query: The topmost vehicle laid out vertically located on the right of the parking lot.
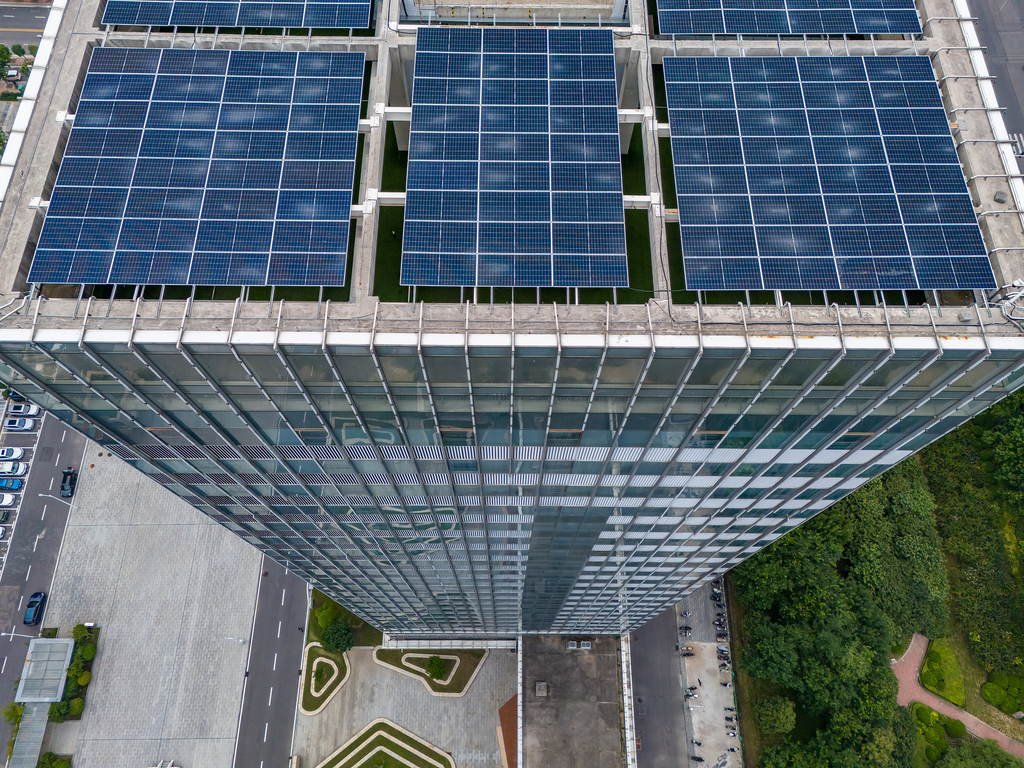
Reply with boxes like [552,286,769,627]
[59,463,79,499]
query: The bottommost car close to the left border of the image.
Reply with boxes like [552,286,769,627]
[23,593,47,627]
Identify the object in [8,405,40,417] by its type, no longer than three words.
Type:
vehicle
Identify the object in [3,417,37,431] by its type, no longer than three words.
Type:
car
